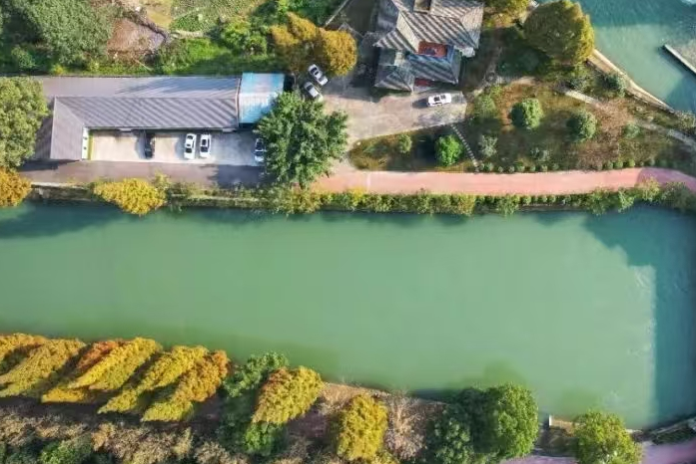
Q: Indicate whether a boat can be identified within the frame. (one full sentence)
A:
No, no boat is visible in the view.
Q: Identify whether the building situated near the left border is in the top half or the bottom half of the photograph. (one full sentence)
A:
It is in the top half that the building situated near the left border appears.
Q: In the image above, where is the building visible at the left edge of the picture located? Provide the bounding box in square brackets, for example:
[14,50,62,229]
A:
[0,75,241,160]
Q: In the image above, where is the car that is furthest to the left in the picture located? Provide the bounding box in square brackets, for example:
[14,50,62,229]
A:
[142,133,155,157]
